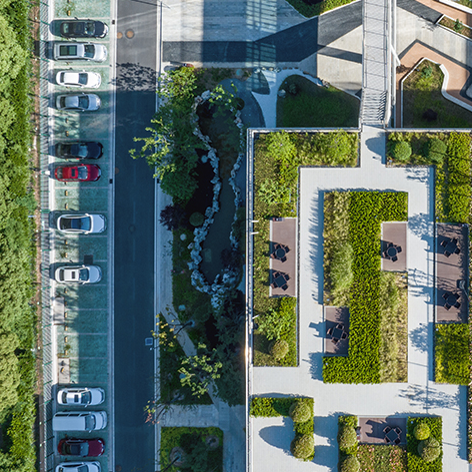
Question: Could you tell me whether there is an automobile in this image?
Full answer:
Yes, this view includes an automobile.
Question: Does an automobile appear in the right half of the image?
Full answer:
No, I can find no automobile in the right half of the image.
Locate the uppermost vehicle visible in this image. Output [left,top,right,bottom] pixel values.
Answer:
[59,18,110,40]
